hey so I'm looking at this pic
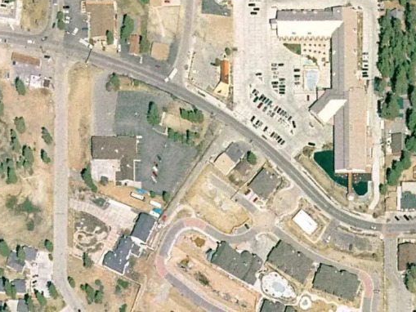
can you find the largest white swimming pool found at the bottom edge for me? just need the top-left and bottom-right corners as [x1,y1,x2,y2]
[262,271,296,299]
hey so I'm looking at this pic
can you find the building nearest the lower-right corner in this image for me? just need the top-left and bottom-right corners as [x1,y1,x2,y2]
[398,243,416,272]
